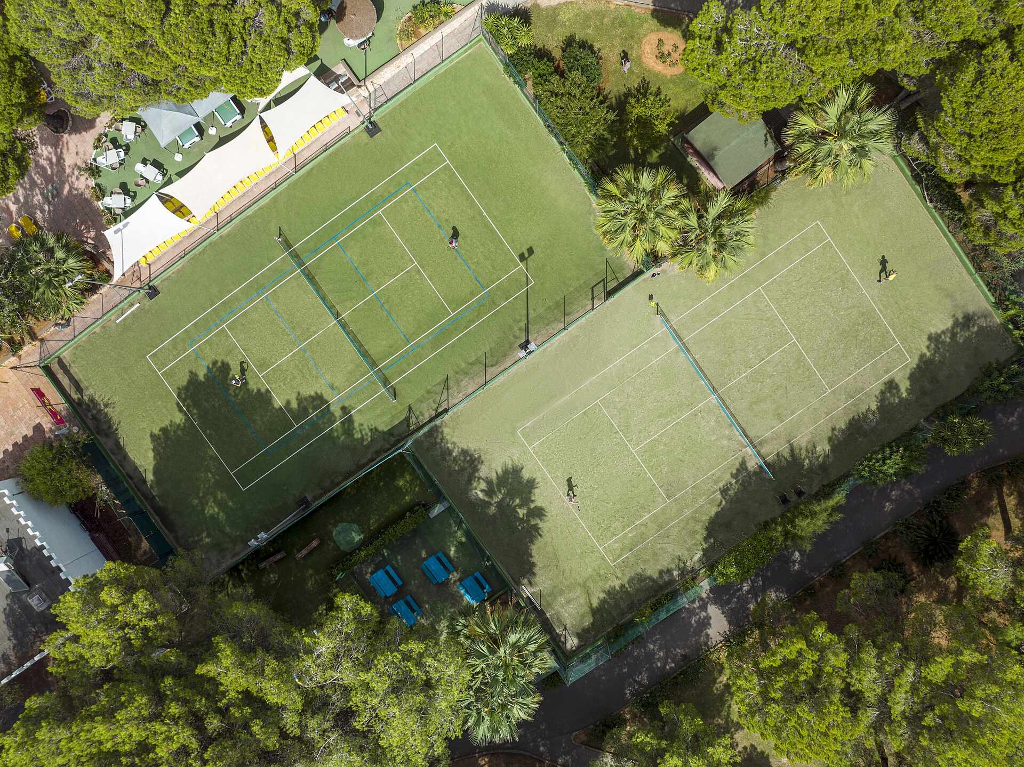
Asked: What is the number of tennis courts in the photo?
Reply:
two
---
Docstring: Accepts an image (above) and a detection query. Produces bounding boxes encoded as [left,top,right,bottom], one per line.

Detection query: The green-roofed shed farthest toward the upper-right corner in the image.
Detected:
[682,101,780,195]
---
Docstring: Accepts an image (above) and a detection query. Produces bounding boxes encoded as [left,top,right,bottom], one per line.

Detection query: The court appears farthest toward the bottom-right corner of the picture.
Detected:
[412,130,1019,658]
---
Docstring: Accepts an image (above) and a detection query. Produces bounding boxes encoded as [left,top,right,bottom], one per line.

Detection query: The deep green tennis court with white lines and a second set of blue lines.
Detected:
[41,43,641,577]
